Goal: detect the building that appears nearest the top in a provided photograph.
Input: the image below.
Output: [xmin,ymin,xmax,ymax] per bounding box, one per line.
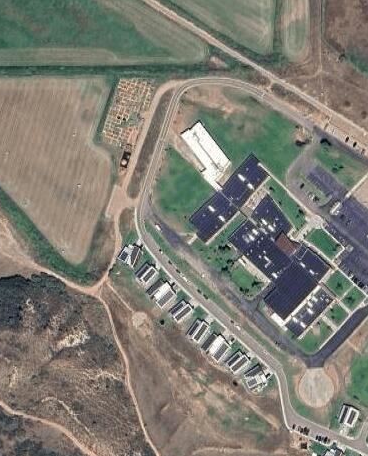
[181,123,231,191]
